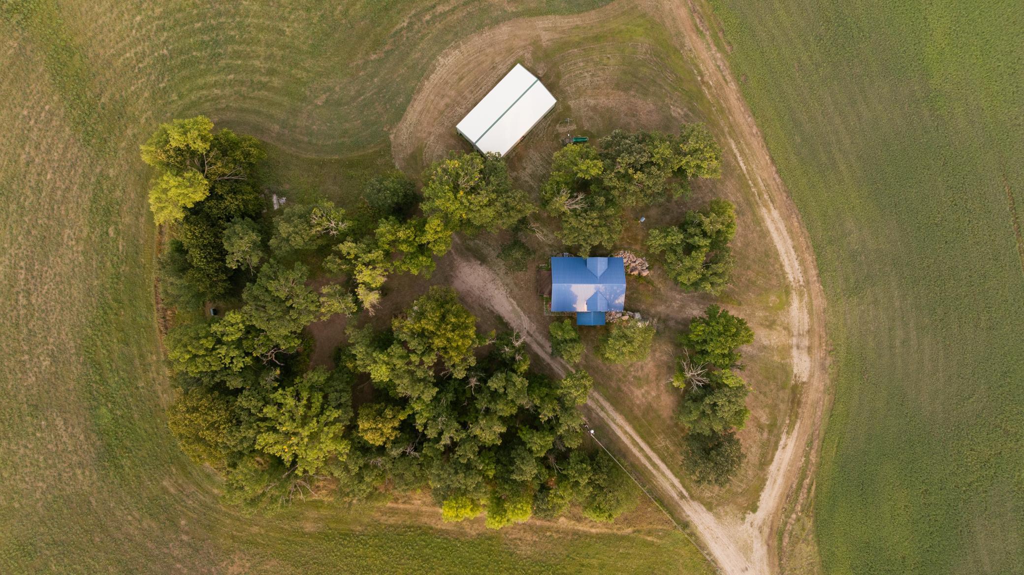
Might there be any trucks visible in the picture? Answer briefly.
No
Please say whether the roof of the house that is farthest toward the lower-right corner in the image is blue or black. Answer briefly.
blue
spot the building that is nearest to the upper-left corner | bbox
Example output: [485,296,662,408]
[456,63,557,157]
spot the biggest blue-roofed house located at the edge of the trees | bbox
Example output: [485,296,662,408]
[539,257,627,328]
